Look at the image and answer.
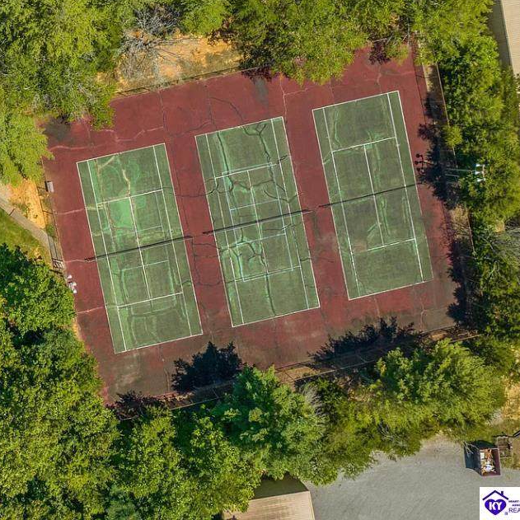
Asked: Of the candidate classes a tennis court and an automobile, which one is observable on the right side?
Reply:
tennis court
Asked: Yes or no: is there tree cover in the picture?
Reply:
Yes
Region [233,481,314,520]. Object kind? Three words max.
shed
